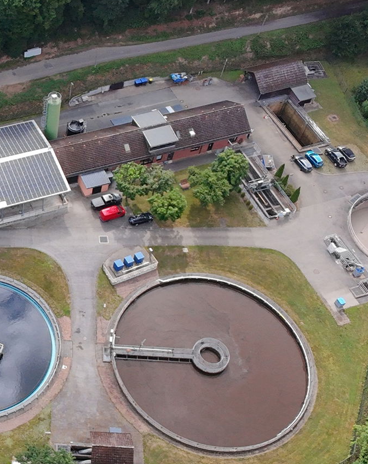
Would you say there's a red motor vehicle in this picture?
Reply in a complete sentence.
Yes, this view includes a red motor vehicle.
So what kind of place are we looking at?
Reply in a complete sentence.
The picture captures an industrial area.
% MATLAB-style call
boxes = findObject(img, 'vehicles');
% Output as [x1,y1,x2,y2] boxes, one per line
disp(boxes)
[304,145,326,166]
[92,191,123,208]
[98,203,128,222]
[128,212,155,227]
[325,144,351,167]
[292,152,316,172]
[337,143,361,161]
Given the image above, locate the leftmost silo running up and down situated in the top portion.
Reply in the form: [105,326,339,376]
[36,89,62,142]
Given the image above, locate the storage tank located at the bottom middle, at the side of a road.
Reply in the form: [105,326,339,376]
[102,277,310,451]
